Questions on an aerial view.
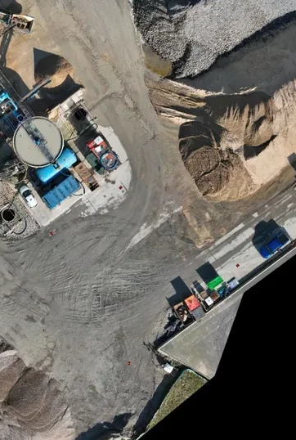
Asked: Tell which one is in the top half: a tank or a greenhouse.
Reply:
tank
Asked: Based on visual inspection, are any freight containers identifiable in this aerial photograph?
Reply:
Yes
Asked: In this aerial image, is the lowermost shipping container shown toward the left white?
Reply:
No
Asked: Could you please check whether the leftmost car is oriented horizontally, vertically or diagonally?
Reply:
diagonally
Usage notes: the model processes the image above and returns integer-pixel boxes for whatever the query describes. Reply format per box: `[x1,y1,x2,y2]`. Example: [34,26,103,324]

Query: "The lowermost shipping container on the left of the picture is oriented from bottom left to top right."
[42,176,79,209]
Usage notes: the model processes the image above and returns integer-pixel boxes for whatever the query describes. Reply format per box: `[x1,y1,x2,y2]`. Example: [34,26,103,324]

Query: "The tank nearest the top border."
[12,116,64,168]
